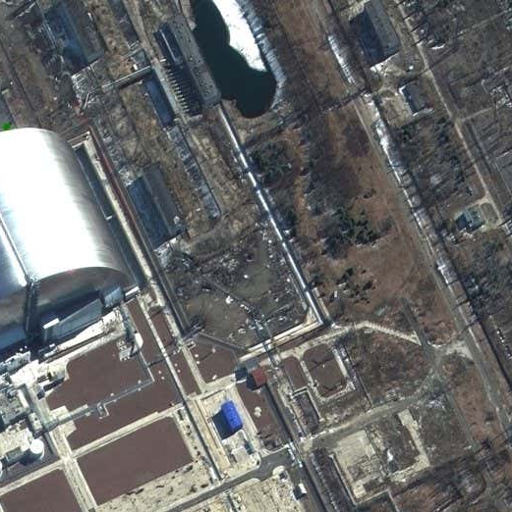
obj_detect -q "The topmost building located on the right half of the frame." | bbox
[362,0,400,63]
